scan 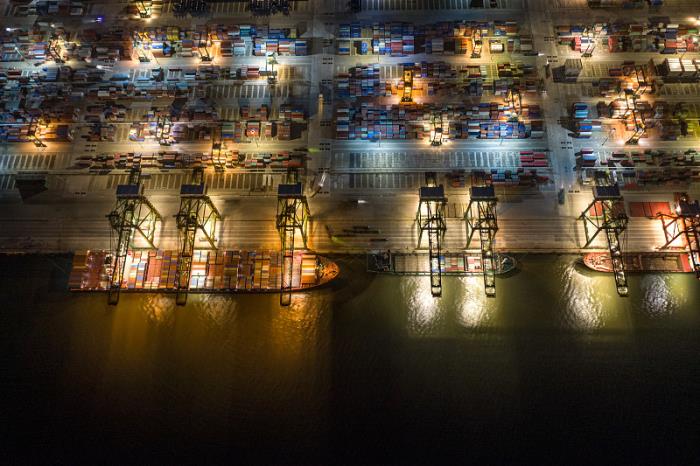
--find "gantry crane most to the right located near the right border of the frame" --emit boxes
[653,168,700,286]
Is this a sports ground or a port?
port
